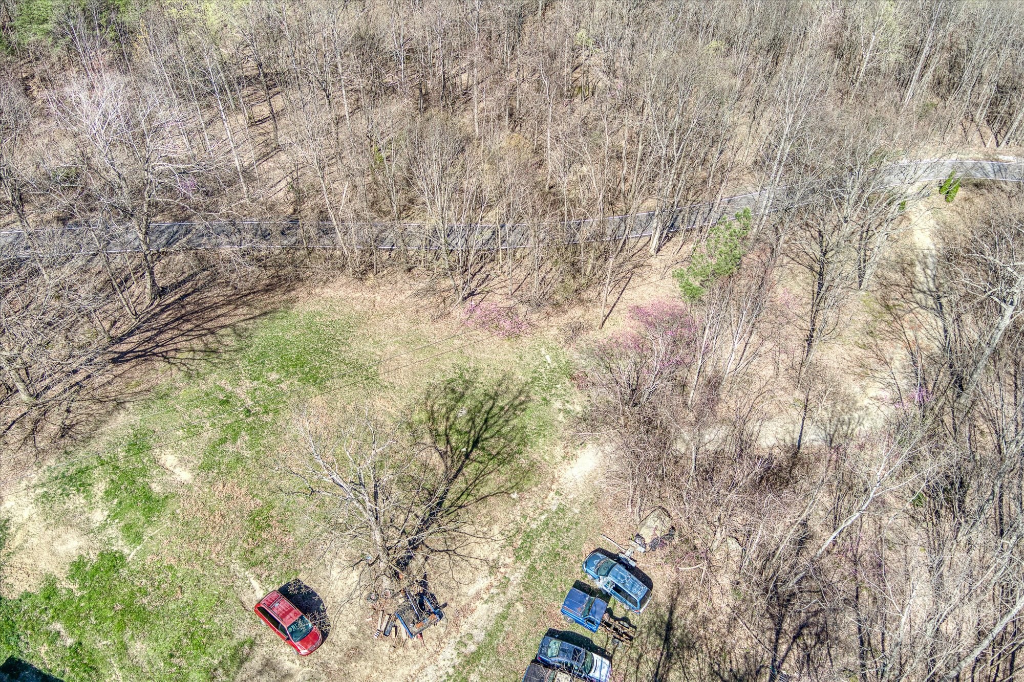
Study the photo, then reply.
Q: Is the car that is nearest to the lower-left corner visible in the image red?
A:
Yes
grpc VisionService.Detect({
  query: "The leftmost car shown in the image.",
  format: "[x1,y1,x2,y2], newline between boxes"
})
[252,591,323,658]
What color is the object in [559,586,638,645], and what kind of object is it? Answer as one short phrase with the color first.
blue truck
